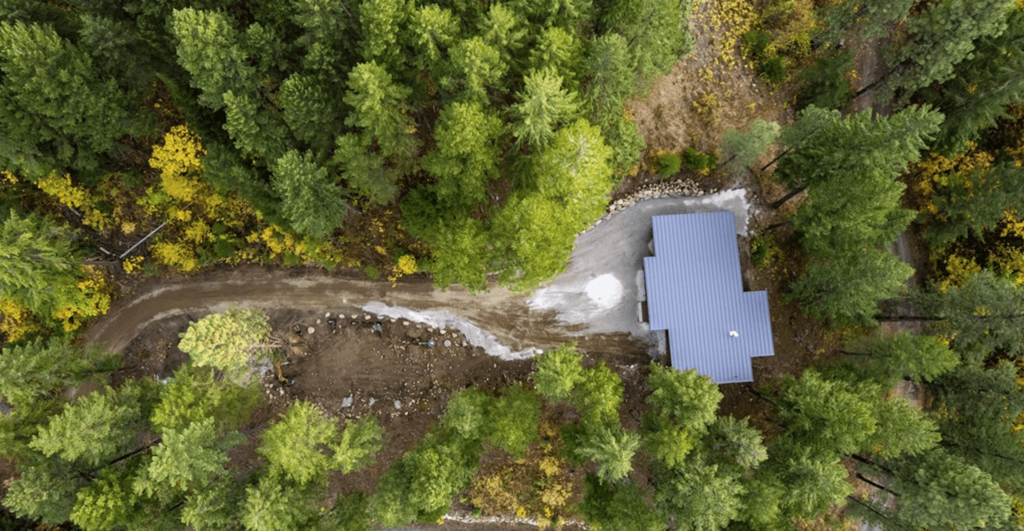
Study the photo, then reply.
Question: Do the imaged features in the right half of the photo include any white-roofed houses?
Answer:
No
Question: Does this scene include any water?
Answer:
No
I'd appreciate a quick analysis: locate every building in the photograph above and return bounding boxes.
[640,209,774,387]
